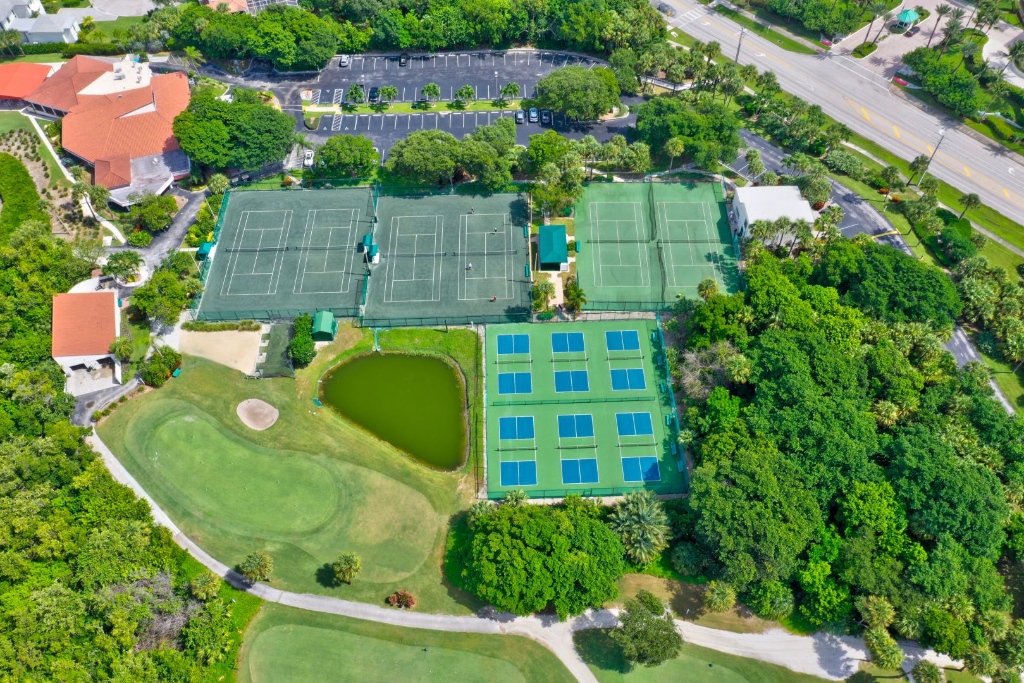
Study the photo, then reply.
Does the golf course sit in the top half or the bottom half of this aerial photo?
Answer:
bottom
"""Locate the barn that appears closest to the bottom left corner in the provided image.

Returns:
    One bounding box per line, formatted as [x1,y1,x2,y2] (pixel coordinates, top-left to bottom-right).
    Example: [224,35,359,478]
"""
[52,292,123,393]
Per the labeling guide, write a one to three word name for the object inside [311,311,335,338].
shed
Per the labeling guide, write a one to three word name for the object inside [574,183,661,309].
tennis court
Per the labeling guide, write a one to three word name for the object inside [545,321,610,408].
sports court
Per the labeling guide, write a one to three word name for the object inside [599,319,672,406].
sports court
